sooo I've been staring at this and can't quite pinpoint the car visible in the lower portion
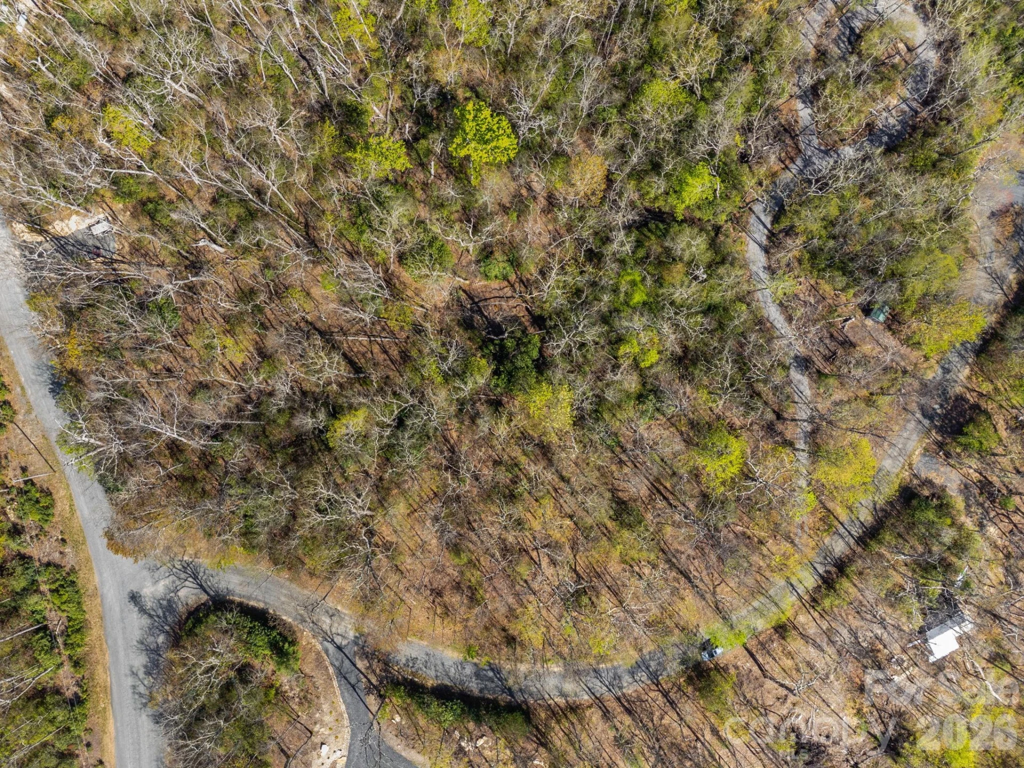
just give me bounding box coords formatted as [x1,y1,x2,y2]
[702,643,727,658]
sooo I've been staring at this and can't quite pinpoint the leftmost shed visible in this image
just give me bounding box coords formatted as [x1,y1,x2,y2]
[863,305,886,325]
